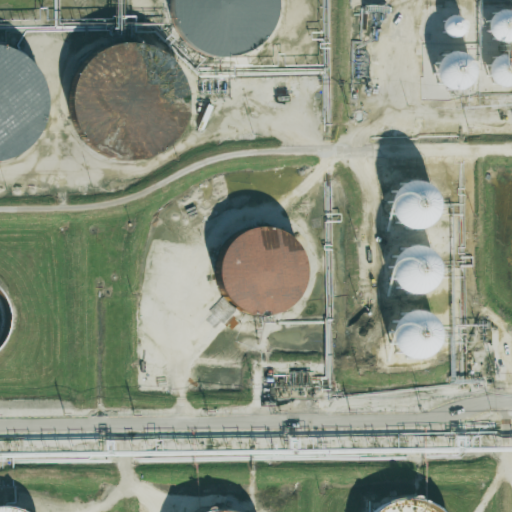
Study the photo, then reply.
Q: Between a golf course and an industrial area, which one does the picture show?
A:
industrial area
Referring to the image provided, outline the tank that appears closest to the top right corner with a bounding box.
[484,10,512,46]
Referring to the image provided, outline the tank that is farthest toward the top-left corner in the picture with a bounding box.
[0,44,46,158]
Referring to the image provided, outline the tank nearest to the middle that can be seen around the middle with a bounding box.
[216,226,310,318]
